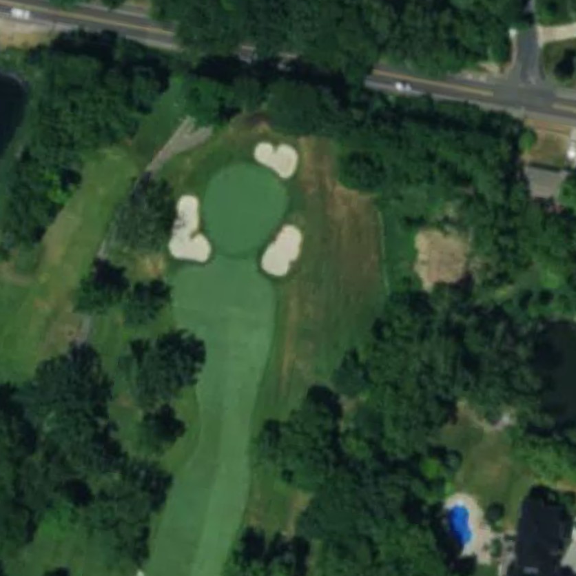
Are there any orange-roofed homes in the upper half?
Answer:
No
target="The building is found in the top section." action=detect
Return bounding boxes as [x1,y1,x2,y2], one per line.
[524,166,565,203]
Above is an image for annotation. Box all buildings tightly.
[524,166,565,203]
[509,497,576,576]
